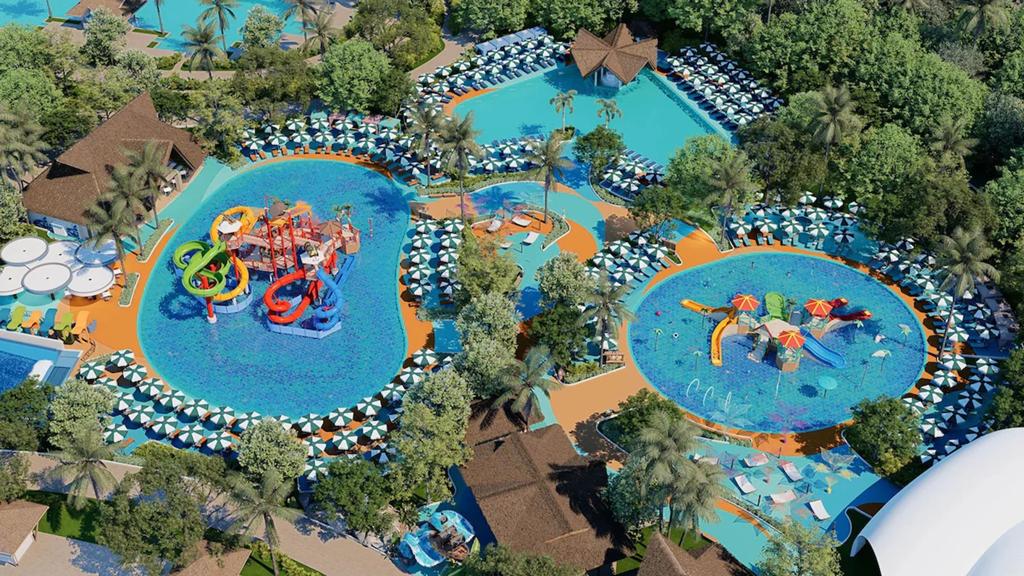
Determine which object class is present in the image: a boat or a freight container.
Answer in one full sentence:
There is a boat in the scene.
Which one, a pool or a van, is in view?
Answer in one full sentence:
Of the two, only a pool appears.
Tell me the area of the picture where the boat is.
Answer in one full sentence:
The boat sits in the bottom section of the image.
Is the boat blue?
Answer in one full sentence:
Yes, the boat appears blue.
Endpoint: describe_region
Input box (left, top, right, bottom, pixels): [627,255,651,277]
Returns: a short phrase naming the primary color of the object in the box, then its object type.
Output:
white umbrella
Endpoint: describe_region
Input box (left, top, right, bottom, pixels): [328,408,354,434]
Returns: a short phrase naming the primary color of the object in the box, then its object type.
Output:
white umbrella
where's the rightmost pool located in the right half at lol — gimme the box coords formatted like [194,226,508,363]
[632,253,924,430]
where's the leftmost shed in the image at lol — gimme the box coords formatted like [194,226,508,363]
[0,494,53,571]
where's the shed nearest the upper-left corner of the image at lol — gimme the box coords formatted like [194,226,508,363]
[66,0,150,37]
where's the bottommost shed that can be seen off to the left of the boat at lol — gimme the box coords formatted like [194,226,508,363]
[170,540,254,576]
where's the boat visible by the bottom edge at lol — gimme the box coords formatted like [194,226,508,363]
[399,509,474,568]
